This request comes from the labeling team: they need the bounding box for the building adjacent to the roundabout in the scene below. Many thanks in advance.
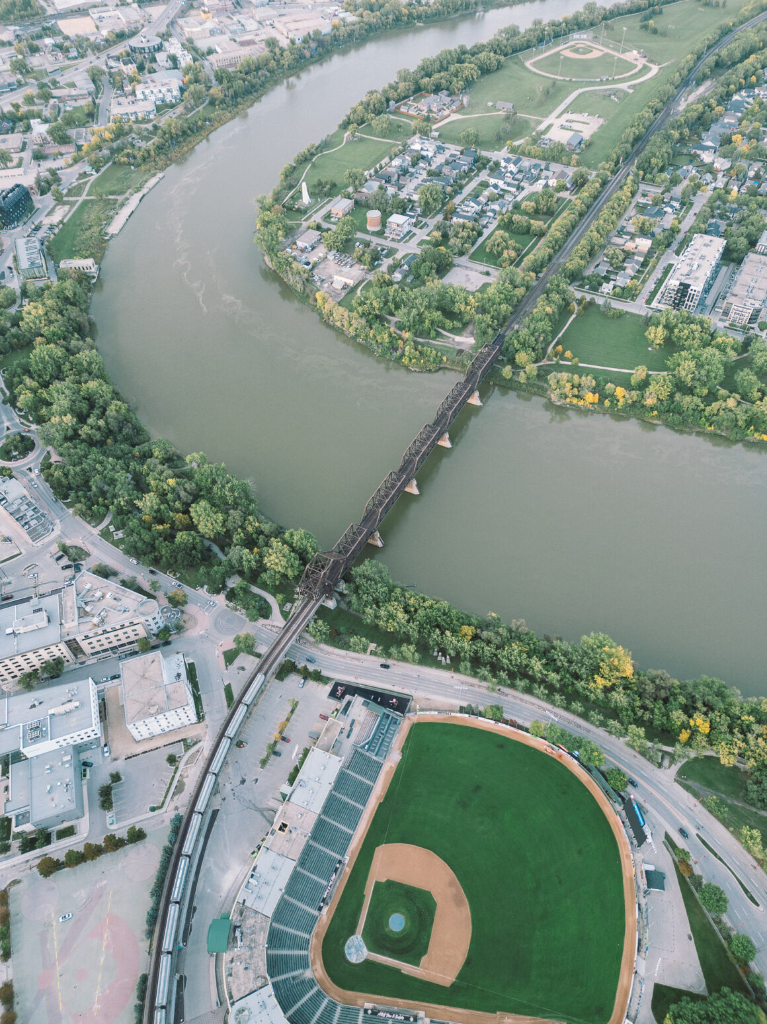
[0,476,55,549]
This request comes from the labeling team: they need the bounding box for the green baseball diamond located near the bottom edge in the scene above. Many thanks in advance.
[309,707,641,1024]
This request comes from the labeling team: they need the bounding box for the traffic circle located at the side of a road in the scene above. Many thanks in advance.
[0,420,53,472]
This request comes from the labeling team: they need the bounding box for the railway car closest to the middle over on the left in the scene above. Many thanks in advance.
[244,674,264,707]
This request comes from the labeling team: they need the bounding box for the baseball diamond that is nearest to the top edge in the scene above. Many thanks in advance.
[524,27,647,82]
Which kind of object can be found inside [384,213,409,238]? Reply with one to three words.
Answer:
house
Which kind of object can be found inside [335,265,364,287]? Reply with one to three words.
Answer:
building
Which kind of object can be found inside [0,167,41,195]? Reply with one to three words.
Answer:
building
